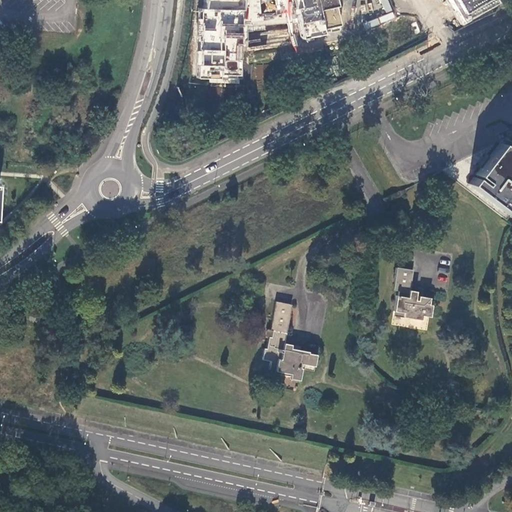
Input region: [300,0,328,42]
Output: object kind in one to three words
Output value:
building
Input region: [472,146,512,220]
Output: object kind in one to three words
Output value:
building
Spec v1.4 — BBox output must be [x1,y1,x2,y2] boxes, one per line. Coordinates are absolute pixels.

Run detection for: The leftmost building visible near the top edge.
[197,0,244,82]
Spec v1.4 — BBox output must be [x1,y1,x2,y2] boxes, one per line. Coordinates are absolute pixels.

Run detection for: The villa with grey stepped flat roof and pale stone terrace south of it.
[391,290,434,331]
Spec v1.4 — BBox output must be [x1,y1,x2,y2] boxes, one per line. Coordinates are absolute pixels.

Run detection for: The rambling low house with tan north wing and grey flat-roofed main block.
[263,302,318,382]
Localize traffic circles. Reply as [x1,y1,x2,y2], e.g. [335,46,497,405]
[83,161,137,215]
